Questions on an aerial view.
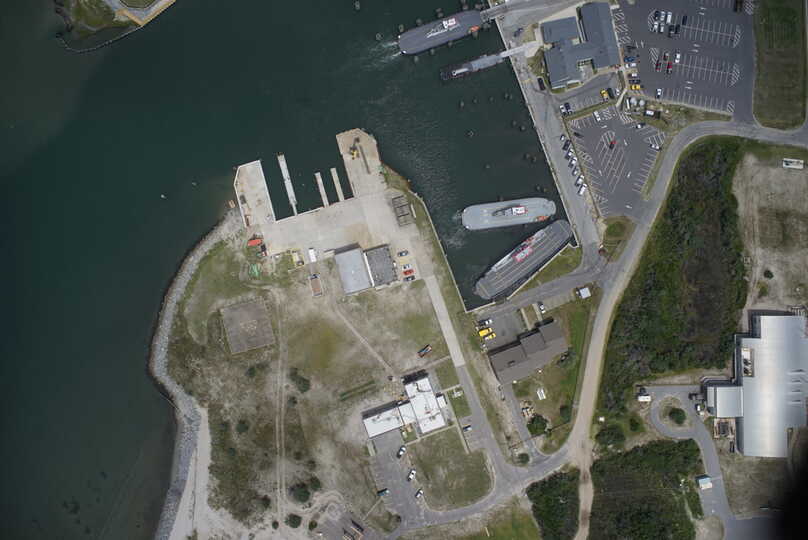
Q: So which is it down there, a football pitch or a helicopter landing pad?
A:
helicopter landing pad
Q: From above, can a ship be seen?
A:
Yes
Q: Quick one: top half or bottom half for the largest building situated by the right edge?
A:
bottom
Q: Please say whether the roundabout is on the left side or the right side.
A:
right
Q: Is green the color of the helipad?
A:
No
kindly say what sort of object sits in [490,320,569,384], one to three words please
house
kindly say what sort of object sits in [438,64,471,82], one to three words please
vessel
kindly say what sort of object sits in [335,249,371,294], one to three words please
shed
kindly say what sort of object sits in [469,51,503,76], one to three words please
pier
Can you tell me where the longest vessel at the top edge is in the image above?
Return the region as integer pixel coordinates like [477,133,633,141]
[398,12,481,54]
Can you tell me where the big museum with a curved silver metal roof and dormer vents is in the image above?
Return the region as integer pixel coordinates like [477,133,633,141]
[705,315,807,457]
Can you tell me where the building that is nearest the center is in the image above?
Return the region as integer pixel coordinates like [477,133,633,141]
[365,246,400,287]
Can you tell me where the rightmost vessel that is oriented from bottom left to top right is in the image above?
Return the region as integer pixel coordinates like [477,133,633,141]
[472,220,574,302]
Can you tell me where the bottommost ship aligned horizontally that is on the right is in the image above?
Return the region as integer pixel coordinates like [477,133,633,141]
[462,200,556,229]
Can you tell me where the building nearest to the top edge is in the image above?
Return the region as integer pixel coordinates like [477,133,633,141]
[541,2,624,92]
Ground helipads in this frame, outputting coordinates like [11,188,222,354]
[221,298,275,354]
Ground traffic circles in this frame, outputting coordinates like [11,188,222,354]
[645,386,808,540]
